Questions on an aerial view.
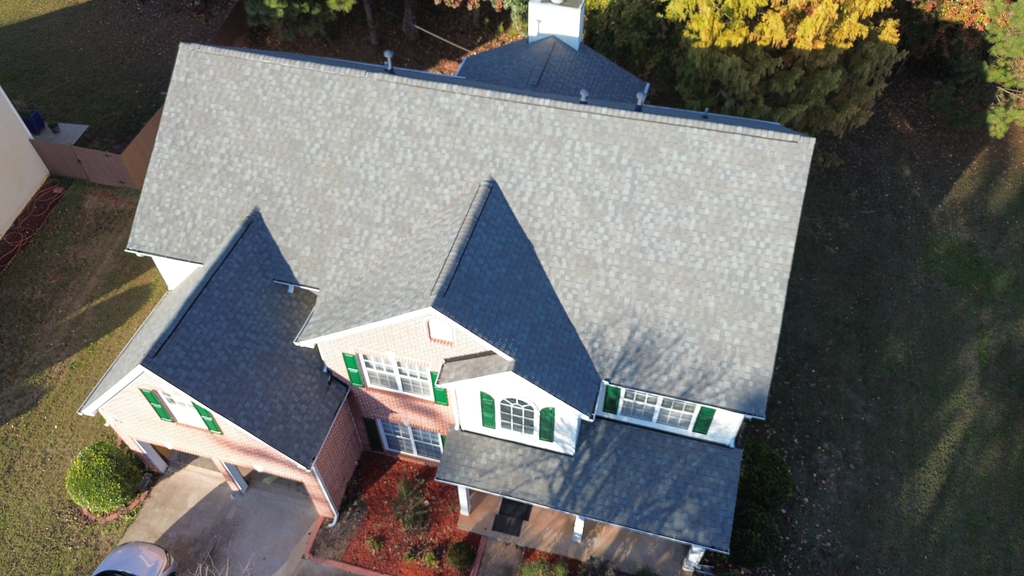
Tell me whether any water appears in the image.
No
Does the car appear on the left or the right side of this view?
left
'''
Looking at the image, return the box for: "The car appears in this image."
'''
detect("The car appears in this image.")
[93,541,176,576]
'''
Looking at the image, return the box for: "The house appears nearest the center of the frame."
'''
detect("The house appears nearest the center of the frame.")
[78,0,817,576]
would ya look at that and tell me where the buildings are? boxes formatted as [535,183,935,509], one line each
[0,91,49,244]
[78,0,817,576]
